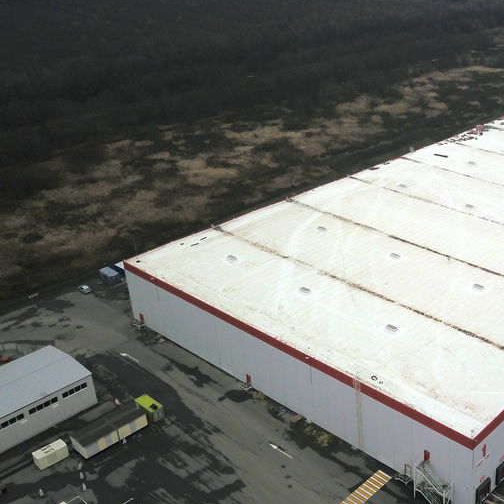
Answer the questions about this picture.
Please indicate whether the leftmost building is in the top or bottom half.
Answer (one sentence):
The leftmost building sits in the bottom half of the picture.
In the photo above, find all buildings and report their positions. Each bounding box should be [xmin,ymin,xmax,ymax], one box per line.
[121,116,504,504]
[0,344,99,453]
[69,403,148,458]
